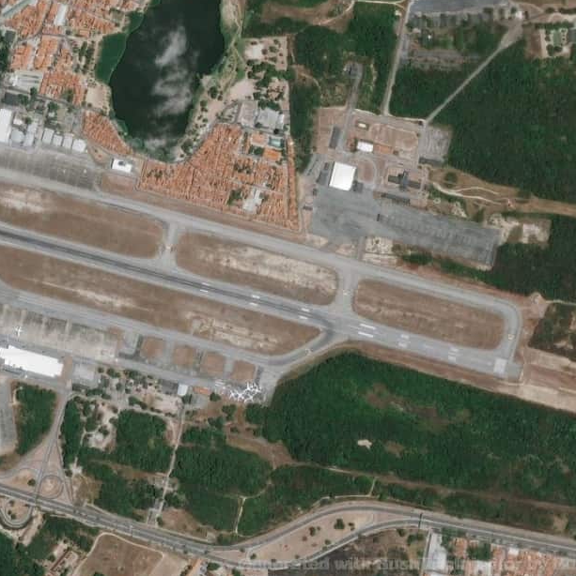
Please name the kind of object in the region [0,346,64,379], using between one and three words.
hangar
